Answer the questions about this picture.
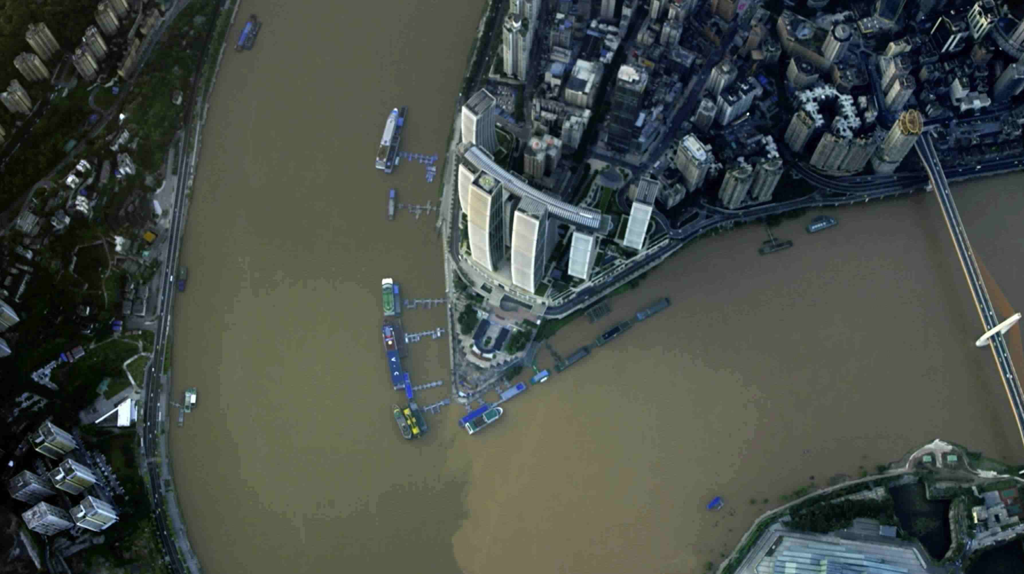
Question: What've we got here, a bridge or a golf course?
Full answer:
The image shows a bridge.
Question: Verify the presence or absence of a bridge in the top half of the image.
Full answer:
Yes, in the top half of the image there is a bridge.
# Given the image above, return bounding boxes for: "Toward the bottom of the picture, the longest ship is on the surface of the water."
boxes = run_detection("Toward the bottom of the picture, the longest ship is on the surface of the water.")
[383,325,405,391]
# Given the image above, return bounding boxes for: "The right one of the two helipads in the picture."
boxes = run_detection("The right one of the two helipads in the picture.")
[835,26,849,38]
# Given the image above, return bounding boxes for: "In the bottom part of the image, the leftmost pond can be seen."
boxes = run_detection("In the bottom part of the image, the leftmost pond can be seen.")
[890,483,951,559]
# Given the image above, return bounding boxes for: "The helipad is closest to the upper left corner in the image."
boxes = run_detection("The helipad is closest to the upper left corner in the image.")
[478,176,496,192]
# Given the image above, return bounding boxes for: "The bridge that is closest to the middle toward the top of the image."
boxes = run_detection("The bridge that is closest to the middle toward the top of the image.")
[460,148,612,237]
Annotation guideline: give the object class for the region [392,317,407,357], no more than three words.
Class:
pier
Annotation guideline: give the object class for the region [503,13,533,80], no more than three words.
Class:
building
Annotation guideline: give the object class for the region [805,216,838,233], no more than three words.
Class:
boat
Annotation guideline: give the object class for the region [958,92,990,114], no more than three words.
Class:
building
